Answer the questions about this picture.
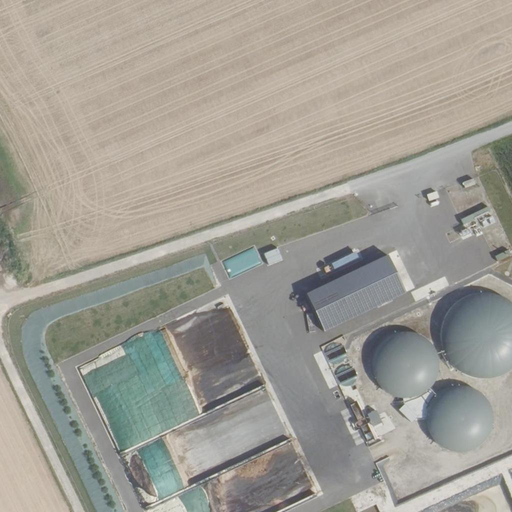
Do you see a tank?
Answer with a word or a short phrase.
Yes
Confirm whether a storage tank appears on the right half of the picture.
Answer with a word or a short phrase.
Yes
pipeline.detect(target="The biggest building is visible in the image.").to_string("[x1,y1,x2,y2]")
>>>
[307,255,406,331]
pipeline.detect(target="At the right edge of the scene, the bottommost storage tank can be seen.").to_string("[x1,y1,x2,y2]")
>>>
[426,385,494,453]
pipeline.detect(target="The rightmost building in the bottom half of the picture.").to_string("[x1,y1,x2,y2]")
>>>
[400,390,432,422]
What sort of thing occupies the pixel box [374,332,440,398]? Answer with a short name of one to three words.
storage tank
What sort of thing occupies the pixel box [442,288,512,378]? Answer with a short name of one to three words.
storage tank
